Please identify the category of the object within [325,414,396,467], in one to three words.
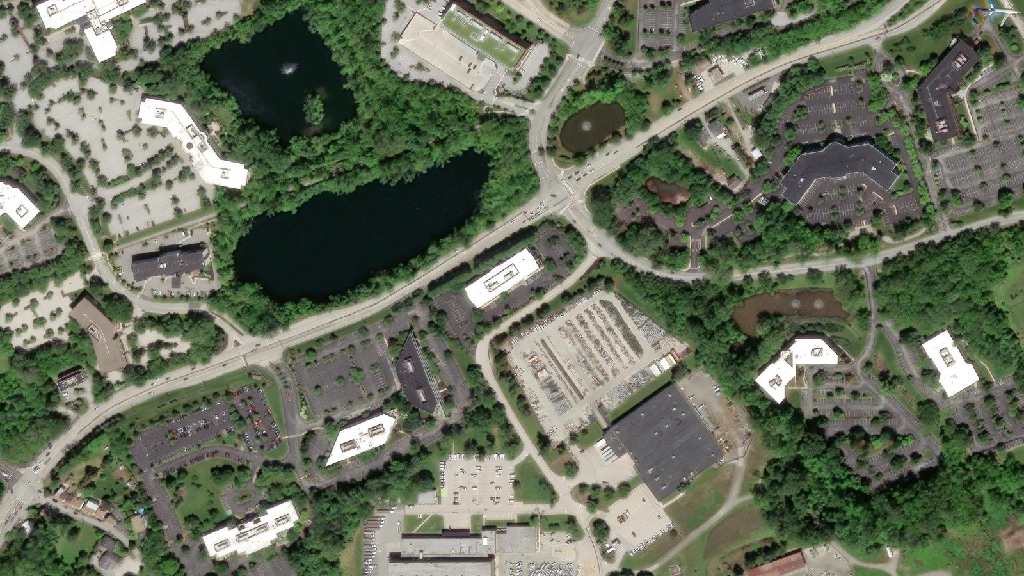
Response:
building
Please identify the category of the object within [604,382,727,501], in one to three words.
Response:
warehouse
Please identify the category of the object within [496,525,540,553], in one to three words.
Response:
building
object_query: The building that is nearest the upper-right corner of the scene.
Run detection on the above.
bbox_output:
[918,38,981,142]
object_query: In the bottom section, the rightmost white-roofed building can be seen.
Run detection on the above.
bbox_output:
[924,330,980,398]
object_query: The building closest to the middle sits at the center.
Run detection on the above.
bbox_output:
[465,249,539,308]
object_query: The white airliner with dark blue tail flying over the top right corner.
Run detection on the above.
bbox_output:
[990,0,1021,27]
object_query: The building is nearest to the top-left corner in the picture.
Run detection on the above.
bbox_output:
[35,0,147,63]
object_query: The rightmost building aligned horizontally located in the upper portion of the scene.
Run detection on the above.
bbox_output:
[781,142,900,205]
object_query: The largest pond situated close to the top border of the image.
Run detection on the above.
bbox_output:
[200,12,356,140]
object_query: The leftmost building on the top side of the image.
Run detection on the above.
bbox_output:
[0,182,40,228]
